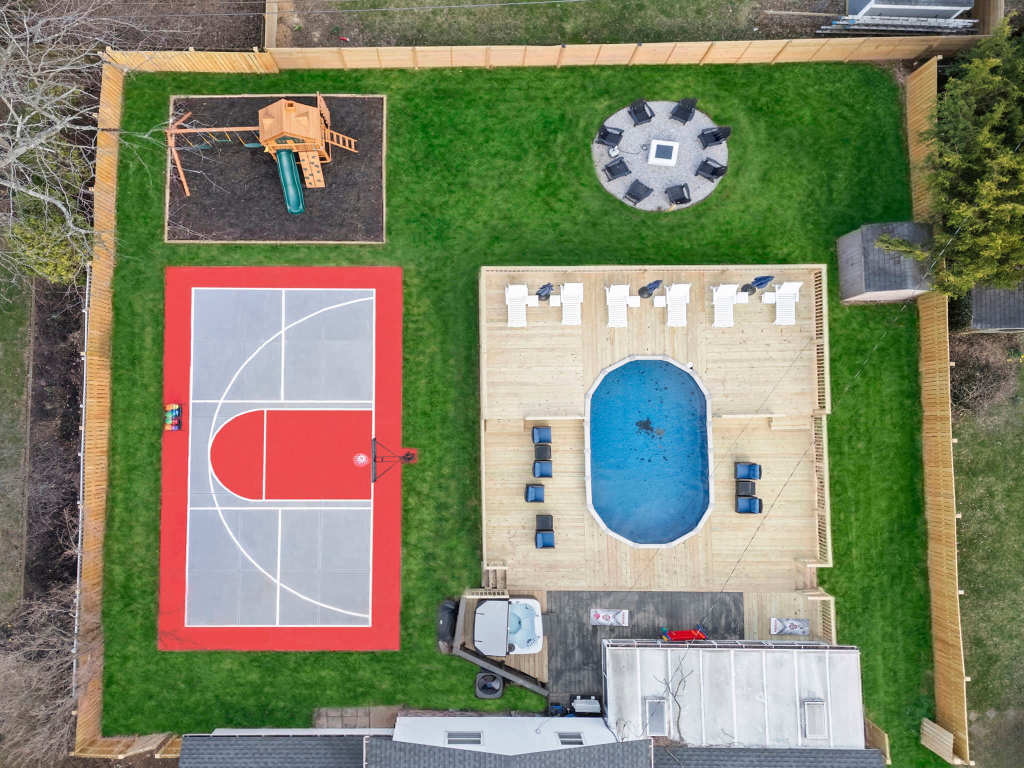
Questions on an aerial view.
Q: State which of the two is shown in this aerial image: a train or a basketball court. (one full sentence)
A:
The one in the frame is a basketball court.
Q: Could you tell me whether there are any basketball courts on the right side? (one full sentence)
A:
No, no basketball court appears on the right side.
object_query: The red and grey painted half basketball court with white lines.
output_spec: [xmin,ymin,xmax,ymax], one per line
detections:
[159,266,417,652]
